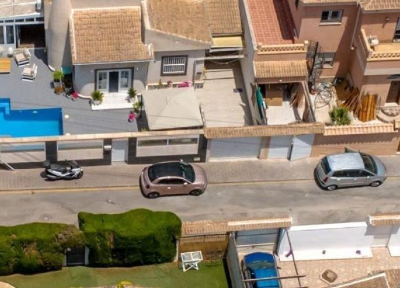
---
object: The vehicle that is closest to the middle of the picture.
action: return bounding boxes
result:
[139,156,210,199]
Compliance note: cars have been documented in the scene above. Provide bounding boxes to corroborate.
[139,156,210,199]
[314,149,391,191]
[243,248,288,288]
